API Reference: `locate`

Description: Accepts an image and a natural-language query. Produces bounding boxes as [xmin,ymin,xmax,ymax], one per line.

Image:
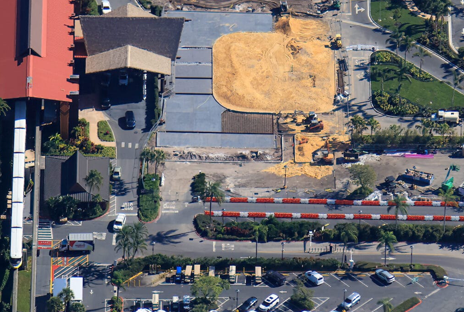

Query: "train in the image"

[9,101,26,276]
